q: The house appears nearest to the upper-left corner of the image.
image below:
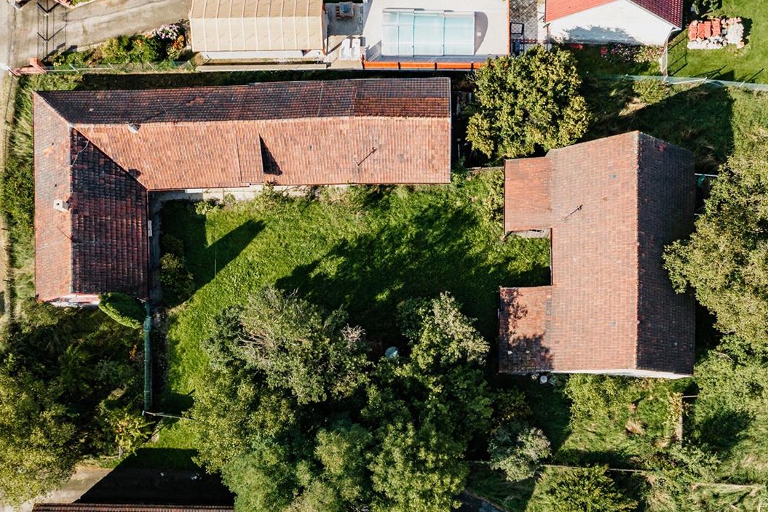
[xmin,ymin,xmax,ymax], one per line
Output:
[32,75,452,303]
